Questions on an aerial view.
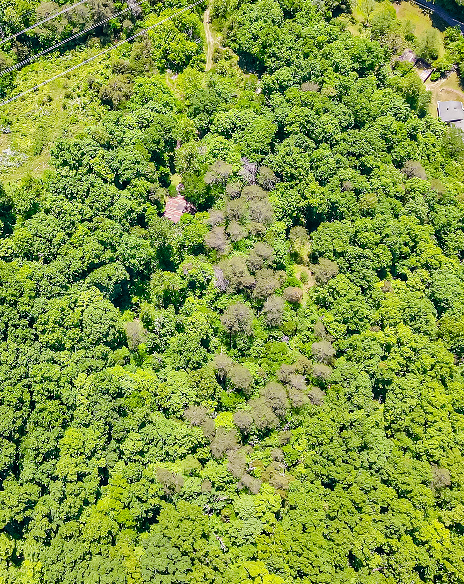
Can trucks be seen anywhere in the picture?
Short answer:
No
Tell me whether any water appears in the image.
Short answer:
No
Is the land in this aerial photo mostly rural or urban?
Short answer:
rural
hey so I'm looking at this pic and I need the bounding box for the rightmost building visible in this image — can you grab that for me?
[436,101,464,152]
